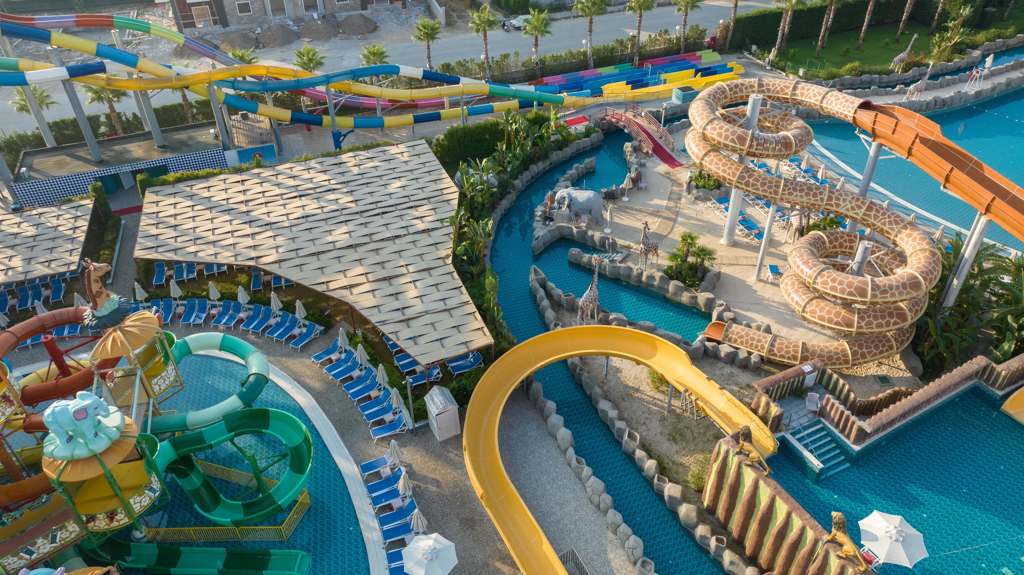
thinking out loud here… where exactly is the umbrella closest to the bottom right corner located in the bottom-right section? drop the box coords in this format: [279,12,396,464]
[852,509,932,574]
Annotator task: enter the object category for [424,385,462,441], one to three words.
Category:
shed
